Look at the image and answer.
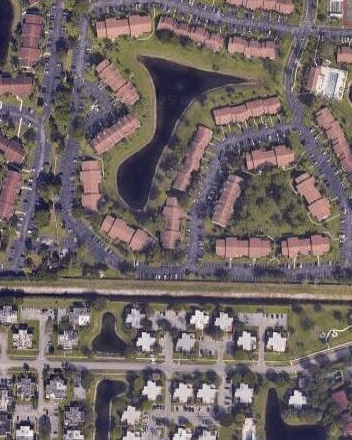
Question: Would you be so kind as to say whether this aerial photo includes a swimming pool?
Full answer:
Yes, the photo shows a swimming pool.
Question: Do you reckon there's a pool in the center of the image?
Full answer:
No, there is no pool in the center of the image.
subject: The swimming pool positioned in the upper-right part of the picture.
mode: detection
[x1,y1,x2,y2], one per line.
[317,66,349,102]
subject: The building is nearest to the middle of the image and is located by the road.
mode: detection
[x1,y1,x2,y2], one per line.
[164,196,183,250]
